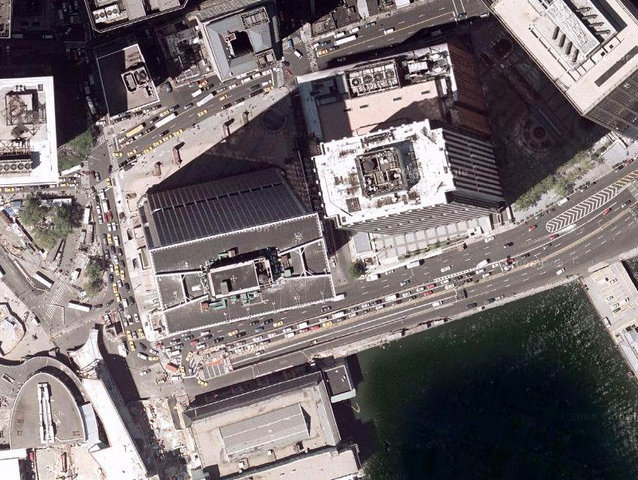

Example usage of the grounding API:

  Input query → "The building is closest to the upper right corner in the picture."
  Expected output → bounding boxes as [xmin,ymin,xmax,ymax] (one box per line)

[483,0,638,138]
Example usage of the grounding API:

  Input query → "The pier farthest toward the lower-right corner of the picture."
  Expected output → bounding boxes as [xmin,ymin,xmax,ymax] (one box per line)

[581,263,638,378]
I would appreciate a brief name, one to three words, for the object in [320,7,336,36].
building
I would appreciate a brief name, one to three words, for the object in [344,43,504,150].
building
